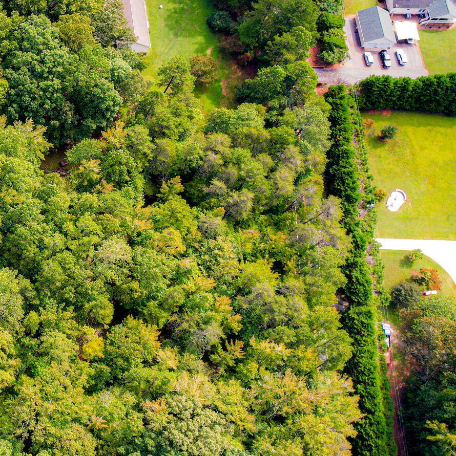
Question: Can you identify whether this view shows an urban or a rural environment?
rural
